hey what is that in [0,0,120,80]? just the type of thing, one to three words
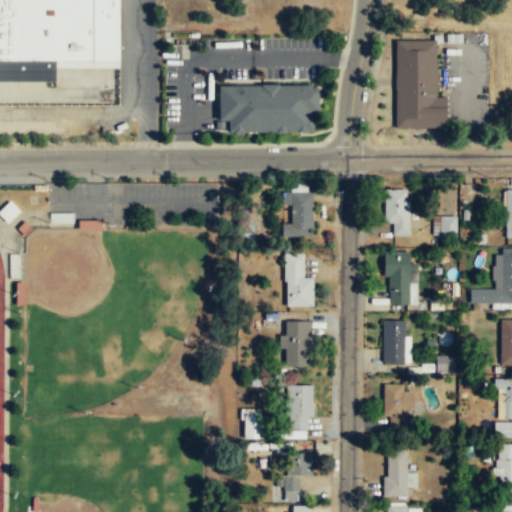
building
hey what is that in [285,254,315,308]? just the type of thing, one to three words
house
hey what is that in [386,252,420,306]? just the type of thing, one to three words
house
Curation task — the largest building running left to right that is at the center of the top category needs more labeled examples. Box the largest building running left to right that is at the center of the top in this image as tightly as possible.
[218,84,320,134]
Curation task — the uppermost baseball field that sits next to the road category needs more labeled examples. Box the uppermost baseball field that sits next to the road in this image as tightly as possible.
[26,230,209,417]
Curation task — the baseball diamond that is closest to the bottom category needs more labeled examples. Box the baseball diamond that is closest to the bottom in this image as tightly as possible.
[24,416,204,512]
